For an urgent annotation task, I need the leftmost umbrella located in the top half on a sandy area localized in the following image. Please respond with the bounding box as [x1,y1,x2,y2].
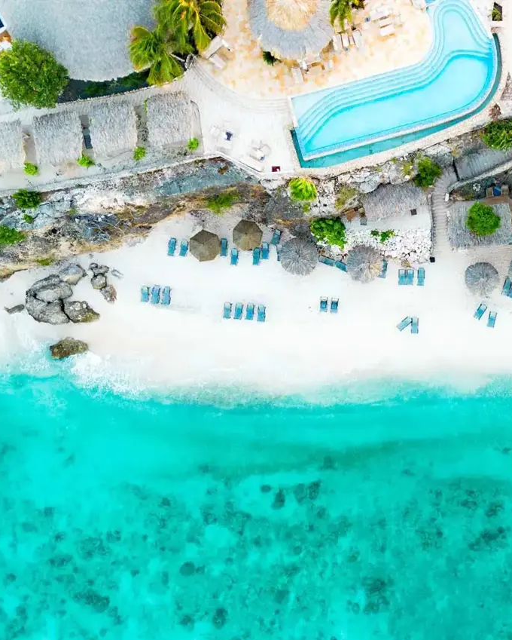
[189,230,220,262]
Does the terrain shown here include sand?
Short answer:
Yes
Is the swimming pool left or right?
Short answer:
right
